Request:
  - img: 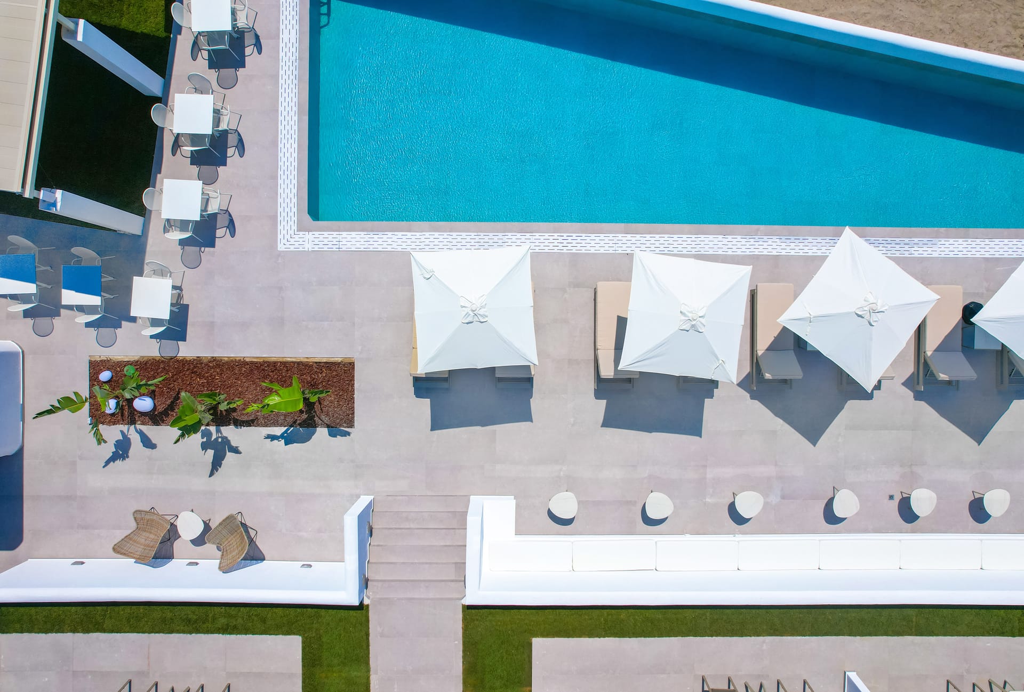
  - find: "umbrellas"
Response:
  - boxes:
[961,249,1024,361]
[618,251,752,384]
[778,227,940,392]
[411,245,538,372]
